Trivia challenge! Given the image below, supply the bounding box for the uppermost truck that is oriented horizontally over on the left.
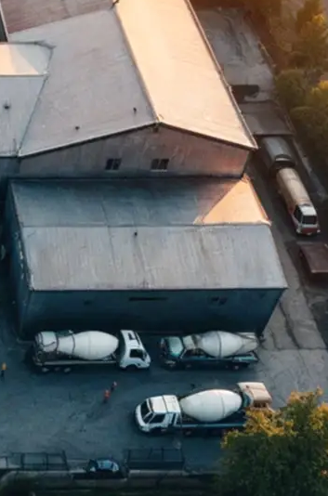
[32,323,154,375]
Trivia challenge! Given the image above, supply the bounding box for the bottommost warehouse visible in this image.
[2,174,285,333]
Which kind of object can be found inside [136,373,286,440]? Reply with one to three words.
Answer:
truck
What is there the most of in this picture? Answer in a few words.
buildings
